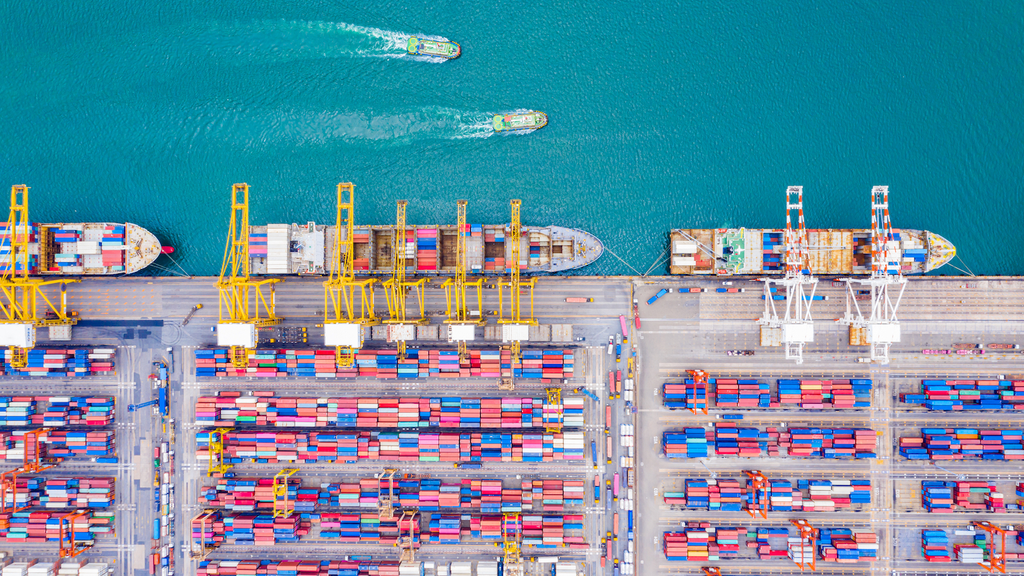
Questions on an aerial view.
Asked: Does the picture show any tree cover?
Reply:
No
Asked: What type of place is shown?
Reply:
port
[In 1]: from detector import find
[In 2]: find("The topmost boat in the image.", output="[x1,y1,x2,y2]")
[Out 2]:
[407,34,462,60]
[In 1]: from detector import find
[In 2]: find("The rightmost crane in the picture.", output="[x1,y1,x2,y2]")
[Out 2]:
[968,517,1009,573]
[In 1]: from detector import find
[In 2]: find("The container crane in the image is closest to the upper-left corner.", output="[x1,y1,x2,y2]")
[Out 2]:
[0,184,78,369]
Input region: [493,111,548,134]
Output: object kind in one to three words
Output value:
boat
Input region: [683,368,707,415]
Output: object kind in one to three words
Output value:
container crane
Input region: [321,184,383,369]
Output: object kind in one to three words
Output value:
container crane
